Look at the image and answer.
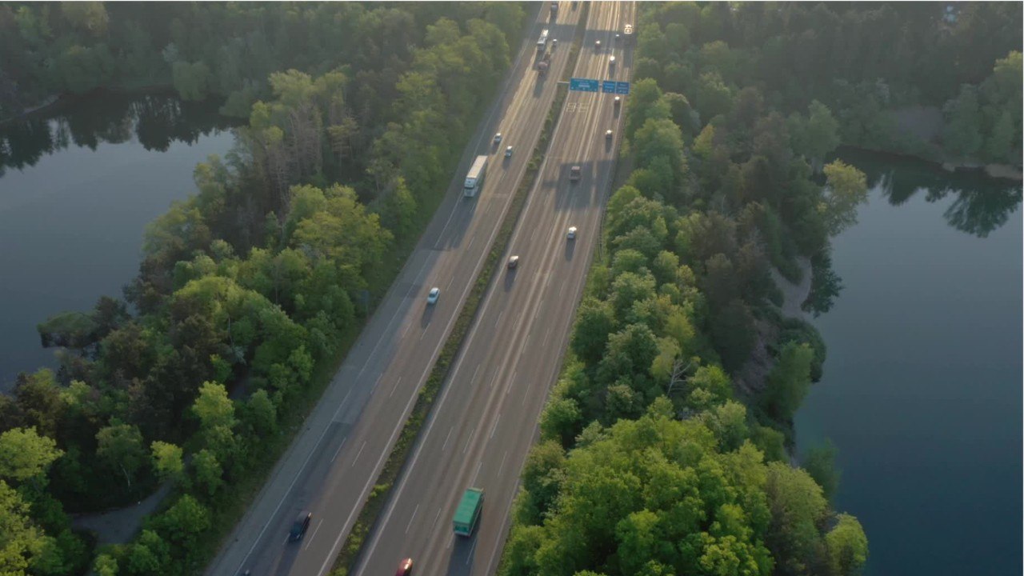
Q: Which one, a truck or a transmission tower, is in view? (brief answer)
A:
truck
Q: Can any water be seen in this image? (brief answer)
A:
Yes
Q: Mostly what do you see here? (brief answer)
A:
trees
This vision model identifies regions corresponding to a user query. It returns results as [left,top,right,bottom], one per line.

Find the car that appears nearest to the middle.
[507,256,519,269]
